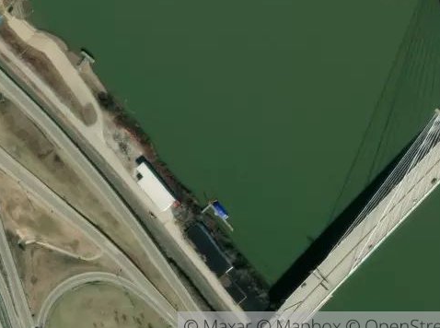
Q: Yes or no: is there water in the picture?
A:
Yes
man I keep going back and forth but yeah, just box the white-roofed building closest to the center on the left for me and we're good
[137,163,181,213]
